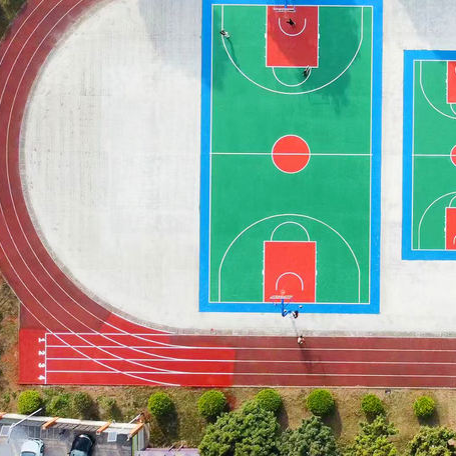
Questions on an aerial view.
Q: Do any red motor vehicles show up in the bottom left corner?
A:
No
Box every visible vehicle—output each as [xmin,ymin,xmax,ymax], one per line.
[69,432,98,456]
[18,435,47,456]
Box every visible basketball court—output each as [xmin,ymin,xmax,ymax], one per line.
[402,50,456,261]
[200,0,383,314]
